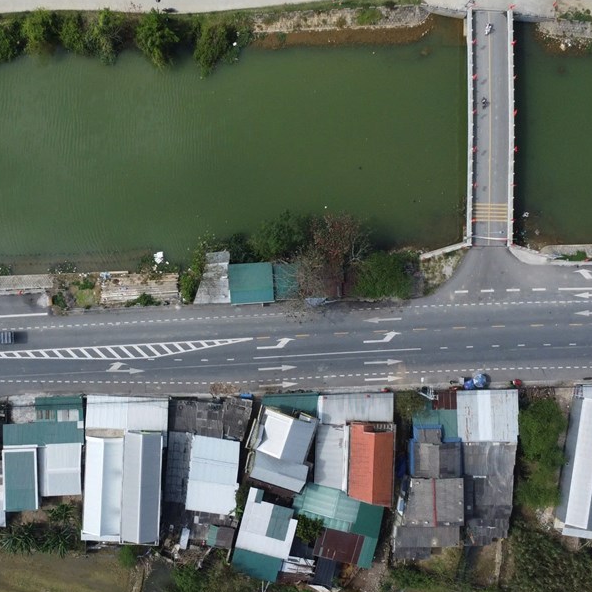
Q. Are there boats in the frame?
No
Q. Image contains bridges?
Yes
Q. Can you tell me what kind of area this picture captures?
residential area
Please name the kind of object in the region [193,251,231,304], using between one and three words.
shed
